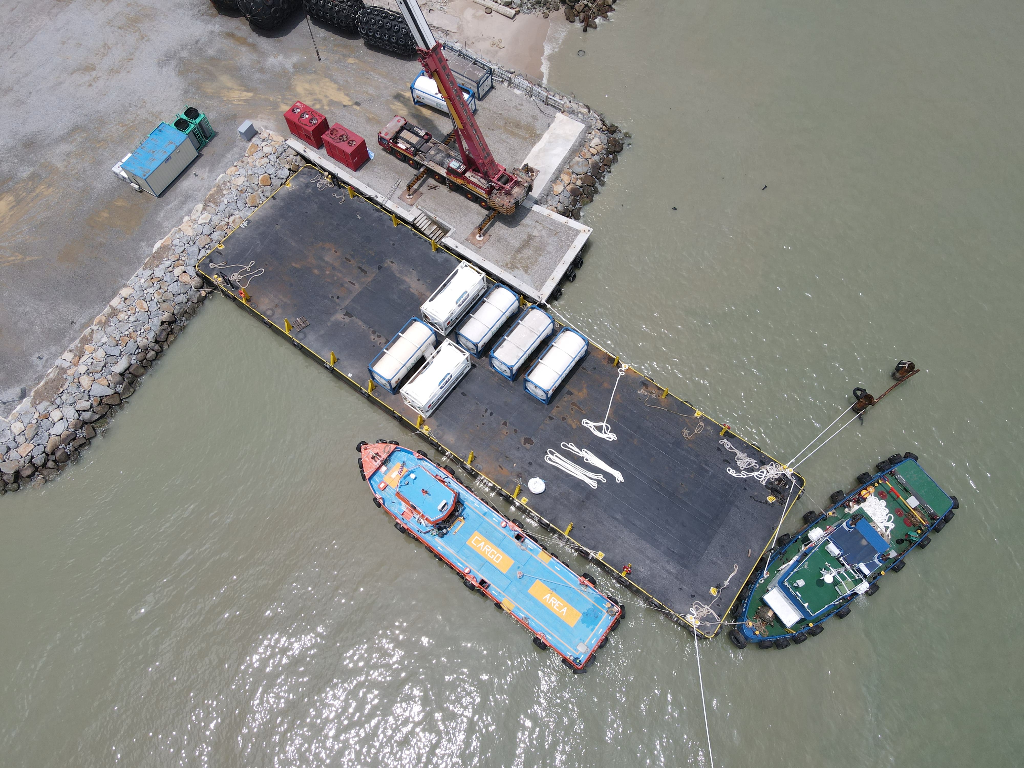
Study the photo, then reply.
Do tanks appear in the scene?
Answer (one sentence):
Yes, a tank appears in the view.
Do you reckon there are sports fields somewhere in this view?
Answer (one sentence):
No, the frame has no sports field in it.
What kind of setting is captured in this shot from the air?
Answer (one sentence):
The picture captures a port.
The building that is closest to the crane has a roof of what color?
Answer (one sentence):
From above, the roof of the building that is closest to the crane looks blue.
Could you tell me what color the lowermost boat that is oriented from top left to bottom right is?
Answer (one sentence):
The color of the lowermost boat that is oriented from top left to bottom right is blue.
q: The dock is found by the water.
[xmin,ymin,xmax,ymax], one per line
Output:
[285,91,593,308]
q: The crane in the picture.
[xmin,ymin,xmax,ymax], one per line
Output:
[312,0,534,239]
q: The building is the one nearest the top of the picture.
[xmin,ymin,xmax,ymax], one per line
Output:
[118,123,197,197]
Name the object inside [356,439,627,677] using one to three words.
boat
